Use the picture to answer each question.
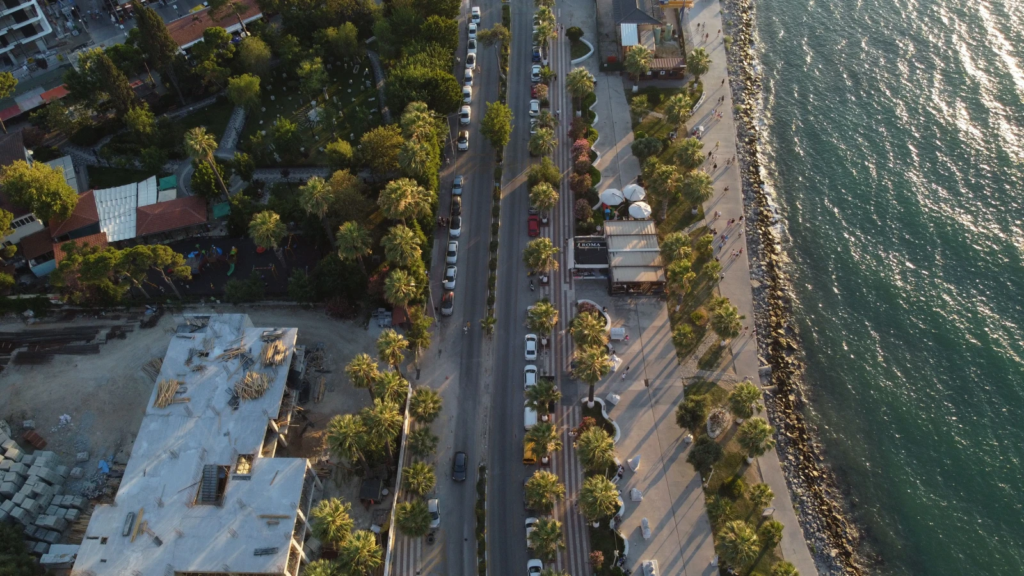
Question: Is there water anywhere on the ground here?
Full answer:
Yes, water shows up in the scene.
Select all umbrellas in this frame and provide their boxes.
[601,191,624,209]
[627,203,651,221]
[622,186,645,215]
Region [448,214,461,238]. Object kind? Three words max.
vehicle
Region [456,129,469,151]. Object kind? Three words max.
vehicle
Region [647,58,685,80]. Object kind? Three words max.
building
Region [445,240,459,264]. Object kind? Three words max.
car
